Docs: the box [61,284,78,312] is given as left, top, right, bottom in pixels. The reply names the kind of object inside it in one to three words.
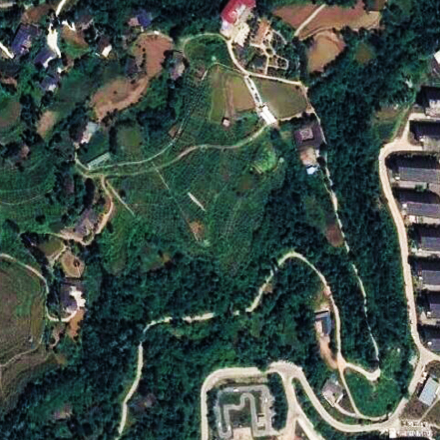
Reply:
house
